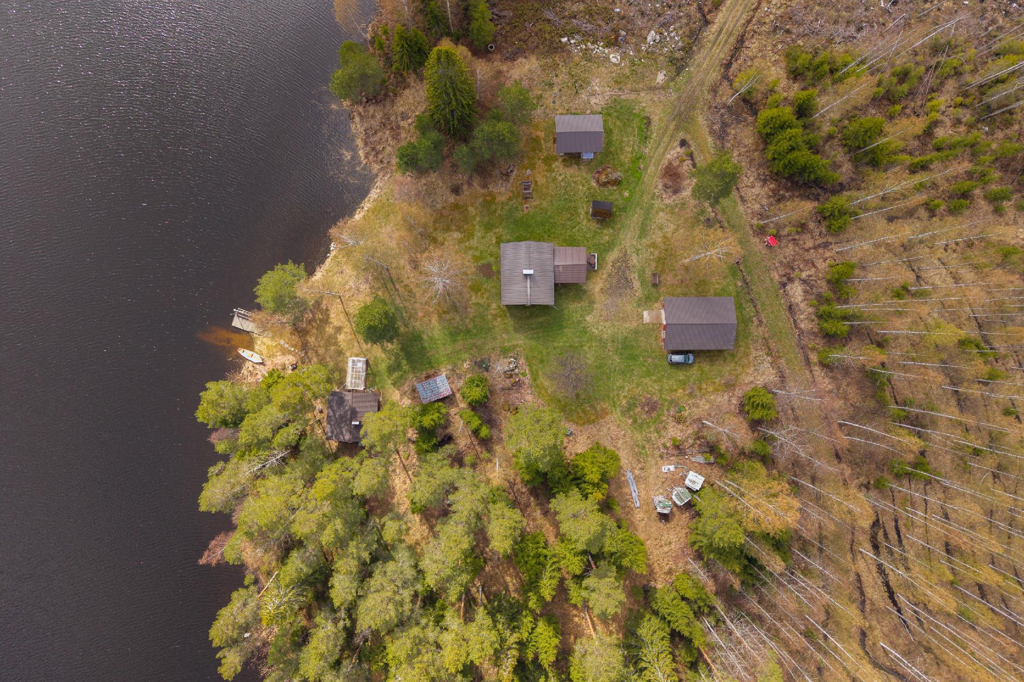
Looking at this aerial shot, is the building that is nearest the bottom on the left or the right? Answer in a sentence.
It is on the left.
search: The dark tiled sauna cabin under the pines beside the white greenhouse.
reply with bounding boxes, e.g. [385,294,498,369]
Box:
[327,392,379,444]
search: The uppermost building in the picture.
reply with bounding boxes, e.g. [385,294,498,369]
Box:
[555,115,604,153]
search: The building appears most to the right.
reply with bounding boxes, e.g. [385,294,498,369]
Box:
[661,297,738,350]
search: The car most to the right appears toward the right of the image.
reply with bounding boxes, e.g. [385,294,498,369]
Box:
[667,352,694,366]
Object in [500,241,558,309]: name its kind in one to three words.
house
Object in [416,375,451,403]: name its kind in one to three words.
shed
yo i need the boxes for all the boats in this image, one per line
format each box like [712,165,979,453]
[237,349,263,364]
